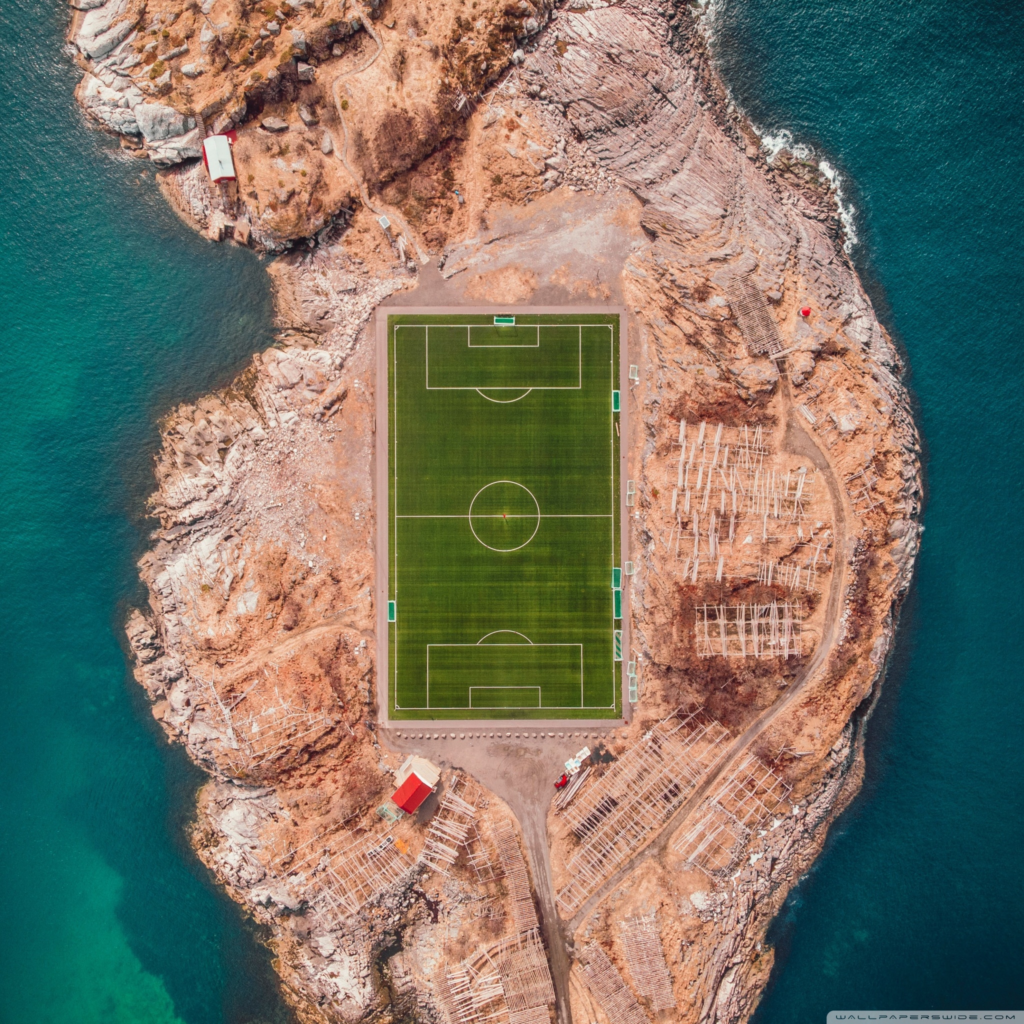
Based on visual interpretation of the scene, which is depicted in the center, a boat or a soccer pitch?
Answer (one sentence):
Visible in the center is a soccer pitch.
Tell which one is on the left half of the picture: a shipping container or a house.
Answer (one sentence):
The feature located on the left half of the picture is a house.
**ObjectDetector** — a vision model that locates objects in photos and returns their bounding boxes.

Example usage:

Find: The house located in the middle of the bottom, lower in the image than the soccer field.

[392,754,441,814]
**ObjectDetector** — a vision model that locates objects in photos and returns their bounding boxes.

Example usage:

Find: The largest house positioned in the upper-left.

[203,133,236,185]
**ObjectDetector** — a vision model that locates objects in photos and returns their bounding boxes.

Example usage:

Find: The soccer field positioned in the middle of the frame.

[376,306,630,728]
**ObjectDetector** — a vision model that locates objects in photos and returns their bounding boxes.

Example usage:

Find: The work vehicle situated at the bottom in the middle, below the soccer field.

[553,773,568,789]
